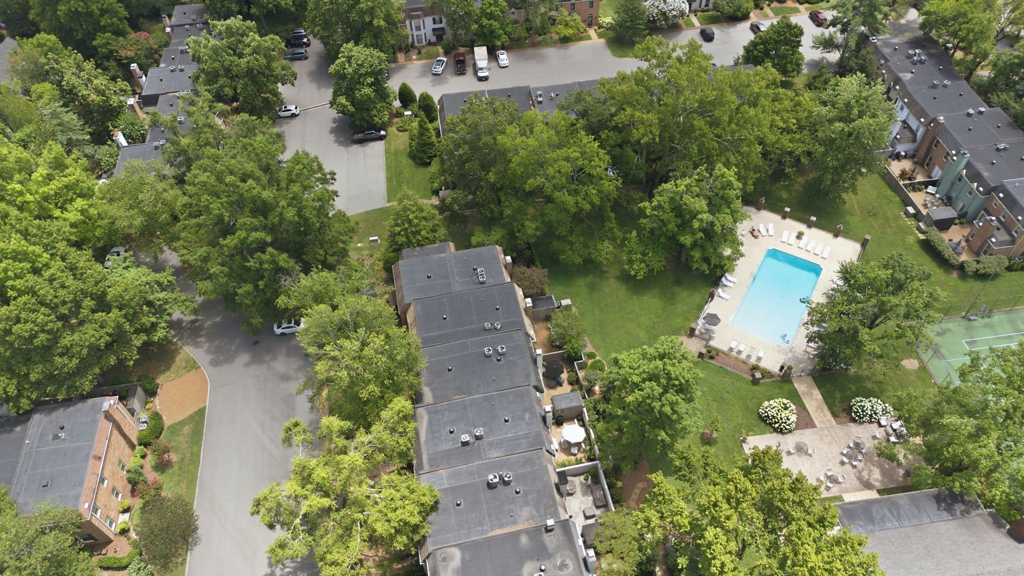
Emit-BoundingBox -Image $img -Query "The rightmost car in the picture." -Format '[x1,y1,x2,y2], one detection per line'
[808,12,829,24]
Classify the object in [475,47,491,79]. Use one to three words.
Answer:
vehicle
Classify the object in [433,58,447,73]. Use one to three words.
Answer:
car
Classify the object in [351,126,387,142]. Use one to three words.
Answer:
vehicle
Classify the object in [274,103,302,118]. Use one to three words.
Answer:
car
